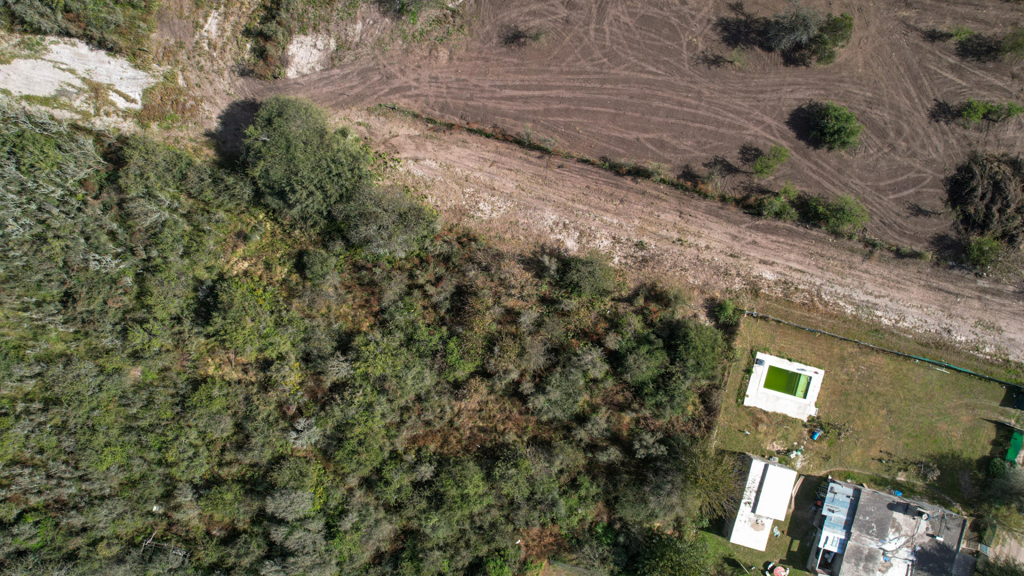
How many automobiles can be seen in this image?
0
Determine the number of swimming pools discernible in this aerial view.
one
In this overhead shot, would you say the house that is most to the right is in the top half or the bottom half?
bottom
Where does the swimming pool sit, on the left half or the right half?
right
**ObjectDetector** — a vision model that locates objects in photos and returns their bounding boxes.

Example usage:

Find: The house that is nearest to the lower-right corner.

[805,479,977,576]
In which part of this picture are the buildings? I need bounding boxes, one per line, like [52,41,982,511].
[805,479,977,576]
[724,455,797,551]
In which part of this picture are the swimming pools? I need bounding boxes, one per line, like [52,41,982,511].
[744,352,824,422]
